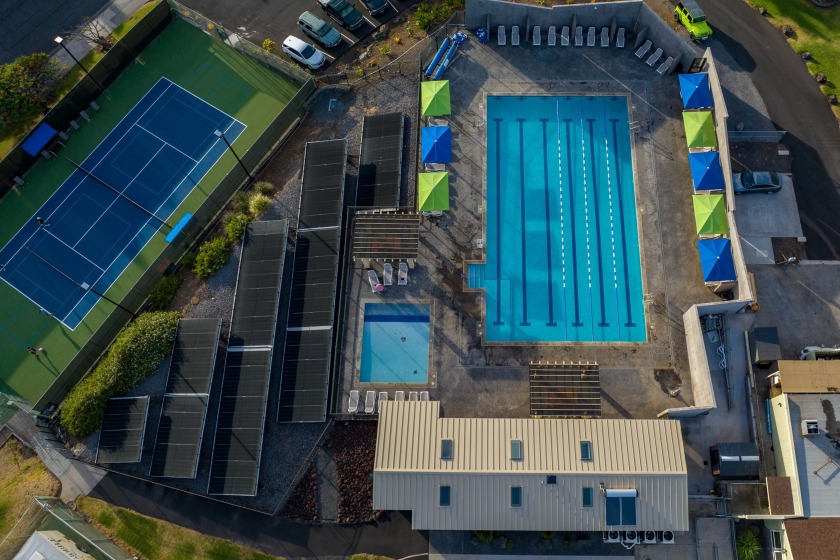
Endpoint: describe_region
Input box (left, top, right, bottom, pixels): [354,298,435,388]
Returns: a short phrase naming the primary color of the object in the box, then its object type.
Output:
blue swimming pool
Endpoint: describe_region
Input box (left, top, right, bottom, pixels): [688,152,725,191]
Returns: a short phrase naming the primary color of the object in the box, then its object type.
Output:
blue umbrella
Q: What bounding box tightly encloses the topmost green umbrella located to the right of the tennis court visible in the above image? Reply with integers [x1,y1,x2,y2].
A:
[420,81,452,116]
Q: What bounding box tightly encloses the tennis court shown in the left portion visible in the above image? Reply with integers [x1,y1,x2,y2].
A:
[0,17,301,412]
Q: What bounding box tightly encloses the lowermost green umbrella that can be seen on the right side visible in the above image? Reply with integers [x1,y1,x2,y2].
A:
[692,193,730,235]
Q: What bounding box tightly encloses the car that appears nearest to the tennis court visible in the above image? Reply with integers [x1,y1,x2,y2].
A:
[281,32,326,70]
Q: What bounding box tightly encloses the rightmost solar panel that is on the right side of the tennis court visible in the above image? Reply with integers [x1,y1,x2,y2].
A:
[354,112,405,208]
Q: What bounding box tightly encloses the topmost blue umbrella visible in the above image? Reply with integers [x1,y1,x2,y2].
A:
[679,74,713,109]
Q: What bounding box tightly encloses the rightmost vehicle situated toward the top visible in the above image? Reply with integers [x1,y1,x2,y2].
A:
[733,167,792,195]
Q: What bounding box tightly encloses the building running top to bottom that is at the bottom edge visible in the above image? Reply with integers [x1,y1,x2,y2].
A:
[744,361,840,560]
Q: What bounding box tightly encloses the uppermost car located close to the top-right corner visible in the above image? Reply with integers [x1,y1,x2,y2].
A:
[672,0,716,42]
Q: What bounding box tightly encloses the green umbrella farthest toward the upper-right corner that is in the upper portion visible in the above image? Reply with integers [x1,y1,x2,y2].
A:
[682,111,718,148]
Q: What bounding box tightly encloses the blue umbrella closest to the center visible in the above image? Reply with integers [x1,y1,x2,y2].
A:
[419,127,452,164]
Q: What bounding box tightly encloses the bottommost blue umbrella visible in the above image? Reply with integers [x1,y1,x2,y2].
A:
[699,239,738,281]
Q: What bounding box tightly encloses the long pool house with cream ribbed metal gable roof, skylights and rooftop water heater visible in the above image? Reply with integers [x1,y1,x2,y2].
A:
[375,398,692,535]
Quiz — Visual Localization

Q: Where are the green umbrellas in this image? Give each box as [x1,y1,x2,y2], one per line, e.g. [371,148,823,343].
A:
[682,111,718,148]
[420,81,452,116]
[692,193,730,235]
[417,172,449,211]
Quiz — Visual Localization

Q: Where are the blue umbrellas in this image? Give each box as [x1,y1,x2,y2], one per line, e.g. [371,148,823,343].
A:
[419,127,452,164]
[699,239,738,281]
[688,152,725,191]
[679,74,713,109]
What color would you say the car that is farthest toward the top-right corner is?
green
